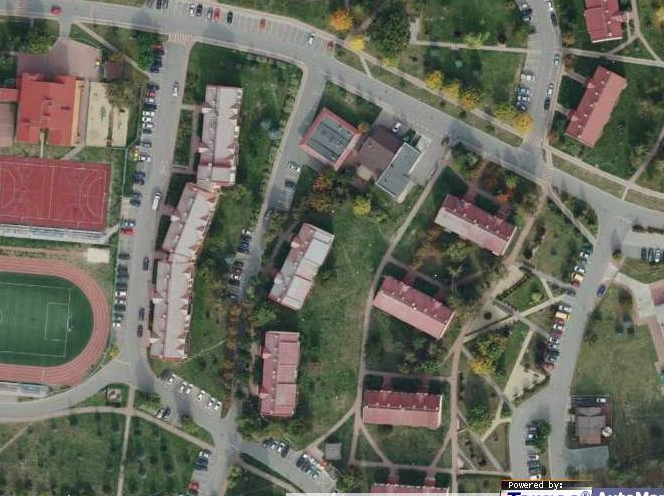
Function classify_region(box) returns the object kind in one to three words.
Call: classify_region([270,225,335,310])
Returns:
building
